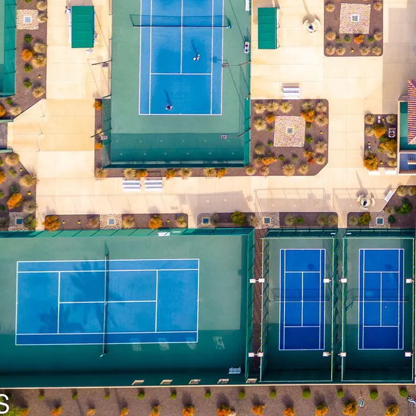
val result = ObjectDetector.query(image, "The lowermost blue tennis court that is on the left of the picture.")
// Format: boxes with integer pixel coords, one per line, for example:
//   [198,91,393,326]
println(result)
[0,231,253,373]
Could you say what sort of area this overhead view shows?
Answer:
sports ground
